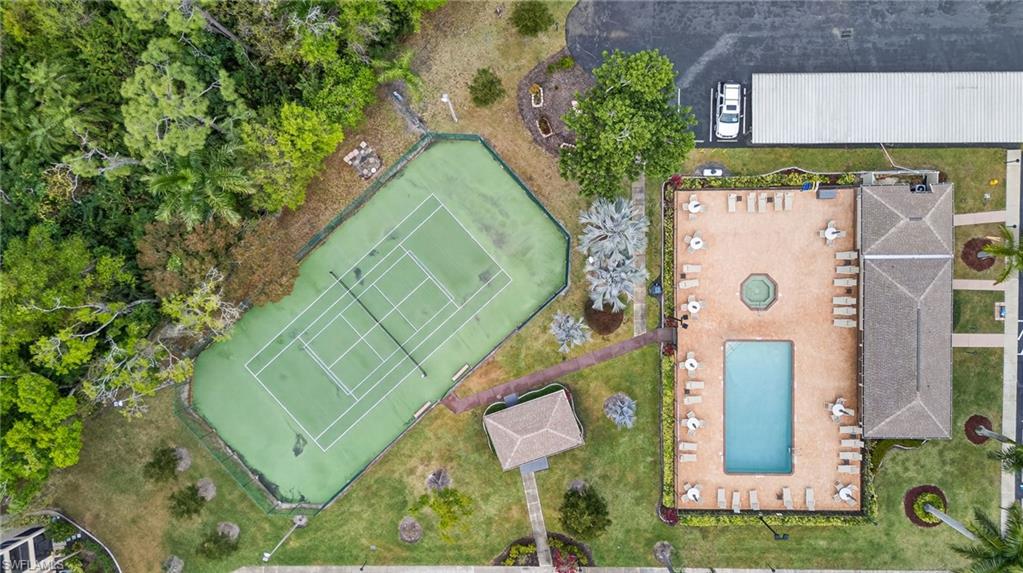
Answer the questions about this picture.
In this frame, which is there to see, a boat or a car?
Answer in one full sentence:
There is a car in the scene.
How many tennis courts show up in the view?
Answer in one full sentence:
I count just 1 tennis court.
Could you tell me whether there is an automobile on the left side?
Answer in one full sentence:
No, looking on the left side, there is no automobile.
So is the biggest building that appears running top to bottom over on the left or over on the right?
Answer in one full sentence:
It is on the right.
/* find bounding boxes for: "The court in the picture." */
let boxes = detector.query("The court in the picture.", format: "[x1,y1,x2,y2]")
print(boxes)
[193,139,568,505]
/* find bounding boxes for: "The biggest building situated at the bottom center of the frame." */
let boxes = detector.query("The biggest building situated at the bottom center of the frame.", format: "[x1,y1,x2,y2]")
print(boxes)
[484,388,584,470]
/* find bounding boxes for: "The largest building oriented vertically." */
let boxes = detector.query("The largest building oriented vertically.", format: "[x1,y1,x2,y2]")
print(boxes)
[856,184,954,439]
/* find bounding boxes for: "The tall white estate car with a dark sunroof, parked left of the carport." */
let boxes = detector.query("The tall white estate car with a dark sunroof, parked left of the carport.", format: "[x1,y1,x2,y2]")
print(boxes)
[714,83,741,140]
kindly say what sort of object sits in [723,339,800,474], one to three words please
swimming pool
